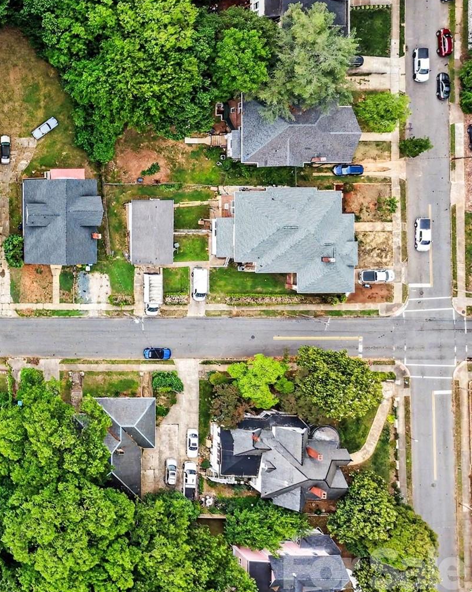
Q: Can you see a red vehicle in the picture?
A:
Yes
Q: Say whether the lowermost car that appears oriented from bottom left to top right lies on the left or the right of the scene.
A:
left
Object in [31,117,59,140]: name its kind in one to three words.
car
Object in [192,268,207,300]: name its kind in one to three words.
vehicle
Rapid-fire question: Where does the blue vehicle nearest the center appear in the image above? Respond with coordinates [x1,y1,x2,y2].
[143,347,170,361]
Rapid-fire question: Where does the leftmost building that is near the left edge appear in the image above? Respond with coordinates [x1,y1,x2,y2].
[22,168,108,268]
